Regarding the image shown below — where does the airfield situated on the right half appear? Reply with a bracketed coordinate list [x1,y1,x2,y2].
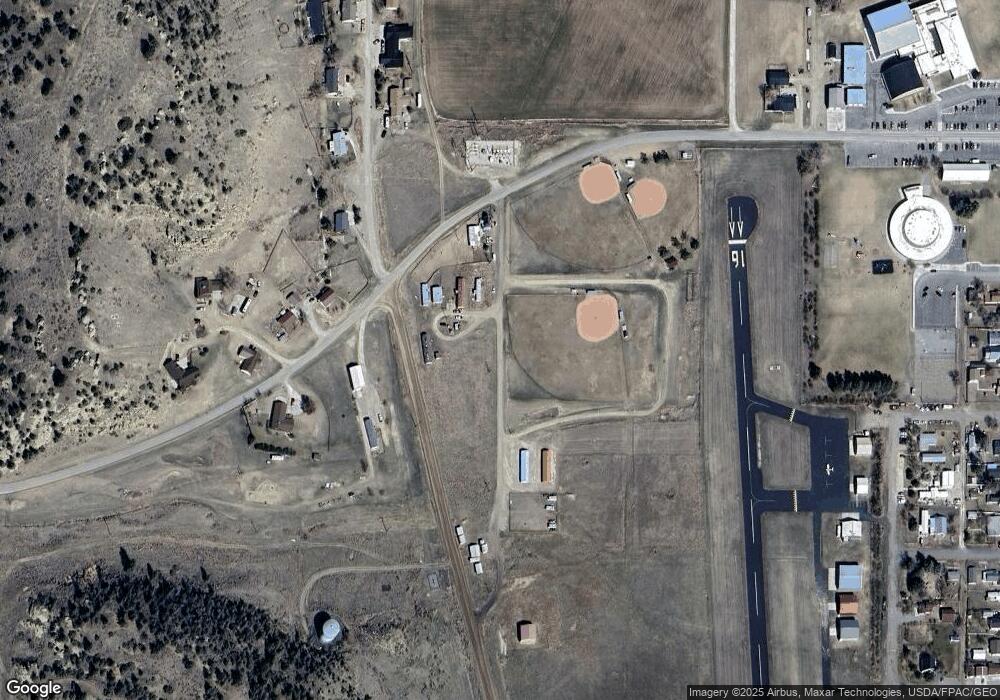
[728,196,869,700]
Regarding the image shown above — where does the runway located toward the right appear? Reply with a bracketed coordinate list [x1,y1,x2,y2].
[728,196,771,700]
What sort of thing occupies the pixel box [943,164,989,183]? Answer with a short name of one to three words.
building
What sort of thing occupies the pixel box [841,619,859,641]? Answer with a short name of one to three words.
hangar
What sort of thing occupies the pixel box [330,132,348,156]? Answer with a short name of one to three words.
house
